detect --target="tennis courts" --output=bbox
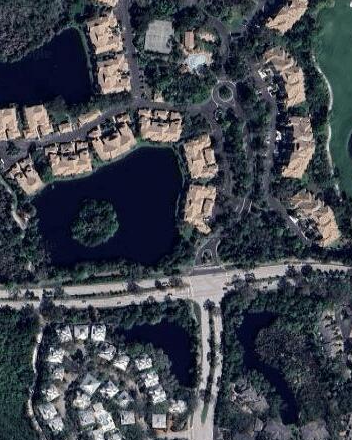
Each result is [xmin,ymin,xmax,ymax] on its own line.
[159,21,174,53]
[147,21,160,53]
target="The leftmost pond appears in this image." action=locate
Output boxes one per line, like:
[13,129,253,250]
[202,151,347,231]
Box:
[117,323,192,390]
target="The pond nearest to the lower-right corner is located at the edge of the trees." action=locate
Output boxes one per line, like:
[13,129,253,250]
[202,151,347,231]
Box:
[238,309,297,426]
